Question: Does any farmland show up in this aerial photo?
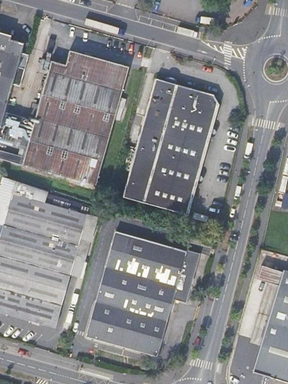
No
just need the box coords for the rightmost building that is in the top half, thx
[124,80,219,214]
